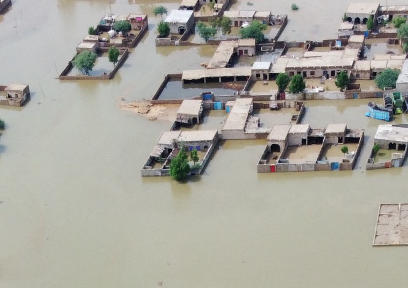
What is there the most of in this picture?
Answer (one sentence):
The scene is dominated by water.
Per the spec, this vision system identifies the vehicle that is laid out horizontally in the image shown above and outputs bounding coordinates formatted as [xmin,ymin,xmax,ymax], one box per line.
[364,105,394,120]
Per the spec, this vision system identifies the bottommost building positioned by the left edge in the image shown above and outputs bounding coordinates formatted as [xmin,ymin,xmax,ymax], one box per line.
[6,83,30,99]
